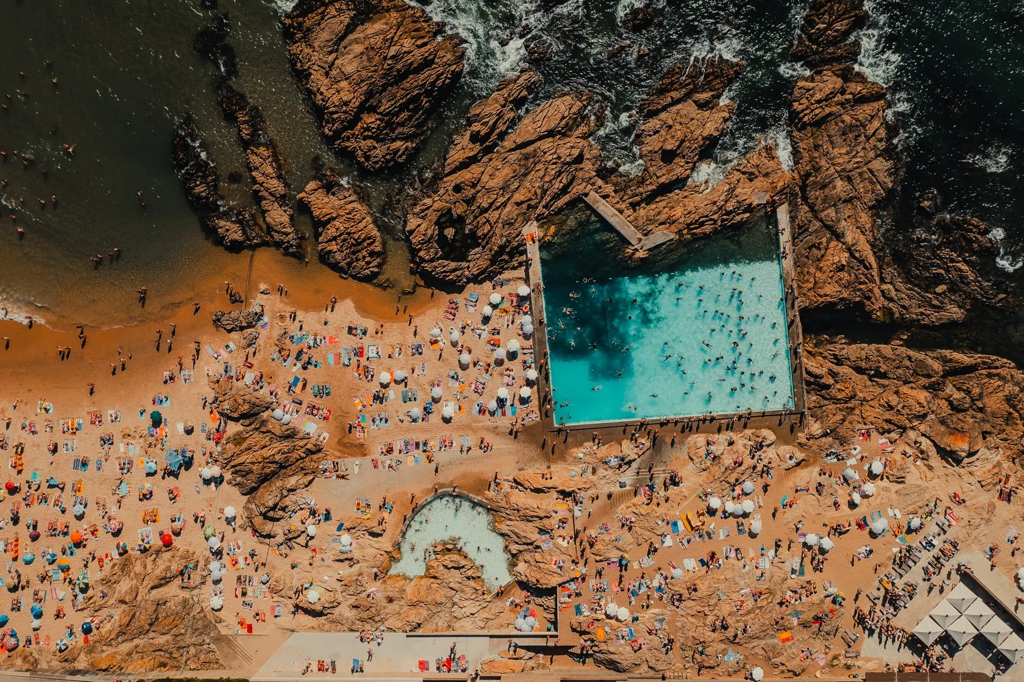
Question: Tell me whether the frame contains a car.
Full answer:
No, I find no car anywhere in the image.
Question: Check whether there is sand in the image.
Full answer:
Yes, some sand is visible.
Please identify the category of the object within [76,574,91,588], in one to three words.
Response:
umbrella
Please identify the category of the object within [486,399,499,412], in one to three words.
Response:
umbrella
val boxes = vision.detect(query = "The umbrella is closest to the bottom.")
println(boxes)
[750,666,764,679]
